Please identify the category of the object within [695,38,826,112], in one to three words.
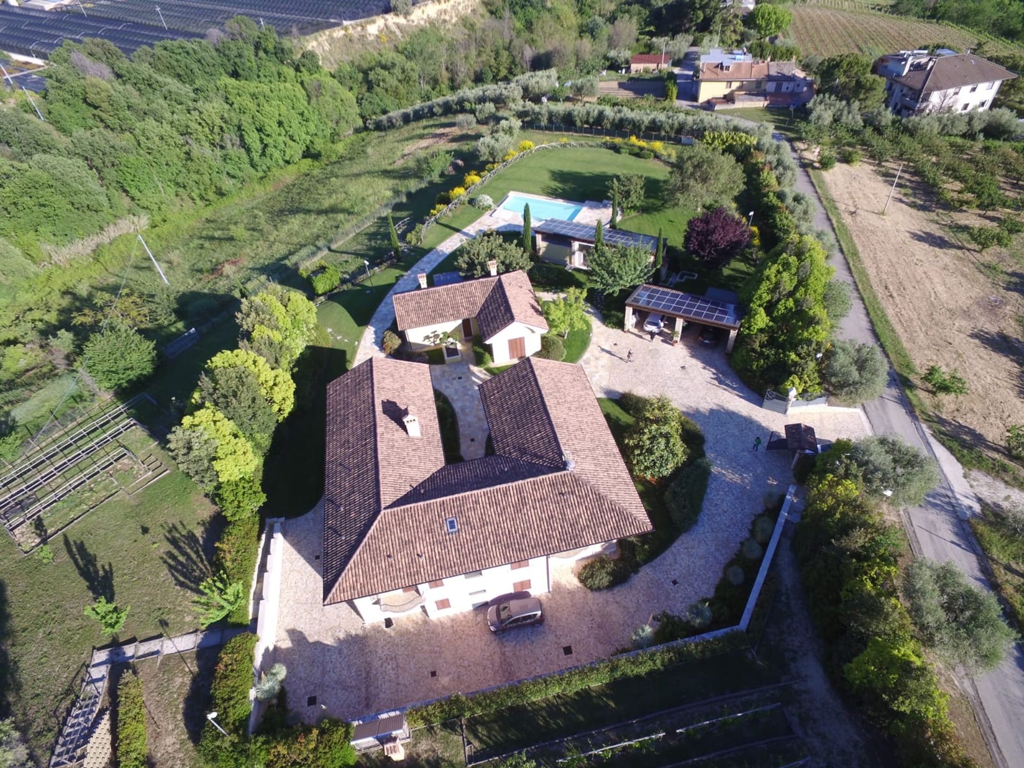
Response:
house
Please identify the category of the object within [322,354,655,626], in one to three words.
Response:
house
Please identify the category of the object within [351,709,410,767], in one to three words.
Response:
shed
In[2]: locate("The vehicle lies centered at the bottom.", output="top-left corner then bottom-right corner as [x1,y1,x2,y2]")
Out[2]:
[487,597,545,634]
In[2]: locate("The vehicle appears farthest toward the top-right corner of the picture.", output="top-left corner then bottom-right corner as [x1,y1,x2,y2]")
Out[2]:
[702,326,722,341]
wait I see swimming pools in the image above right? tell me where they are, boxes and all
[466,190,611,231]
